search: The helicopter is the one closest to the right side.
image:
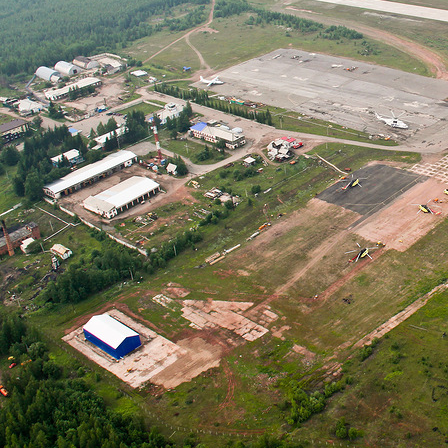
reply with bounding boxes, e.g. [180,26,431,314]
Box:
[415,199,446,214]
